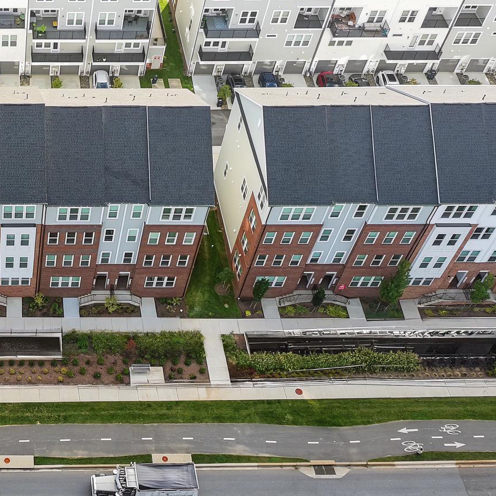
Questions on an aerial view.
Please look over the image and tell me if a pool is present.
No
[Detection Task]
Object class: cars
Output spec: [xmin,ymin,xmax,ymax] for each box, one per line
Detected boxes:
[316,72,338,84]
[350,73,372,84]
[91,69,110,86]
[373,69,398,84]
[225,73,243,98]
[257,69,280,84]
